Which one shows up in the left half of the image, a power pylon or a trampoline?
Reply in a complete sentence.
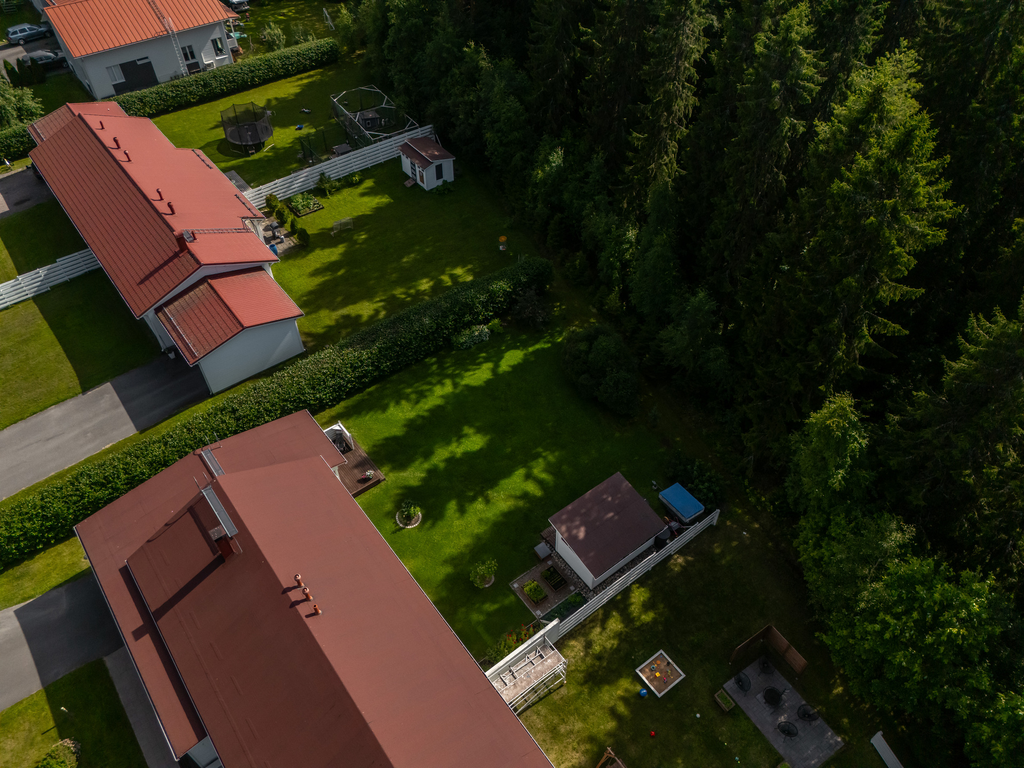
What appears in the left half of the image is a trampoline.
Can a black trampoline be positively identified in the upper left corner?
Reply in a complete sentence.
Yes, I can see a black trampoline in the upper left corner.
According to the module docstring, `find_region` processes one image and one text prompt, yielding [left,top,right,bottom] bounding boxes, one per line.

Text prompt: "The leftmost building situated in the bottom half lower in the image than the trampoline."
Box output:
[74,409,559,768]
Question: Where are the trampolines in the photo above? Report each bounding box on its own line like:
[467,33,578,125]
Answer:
[215,102,273,163]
